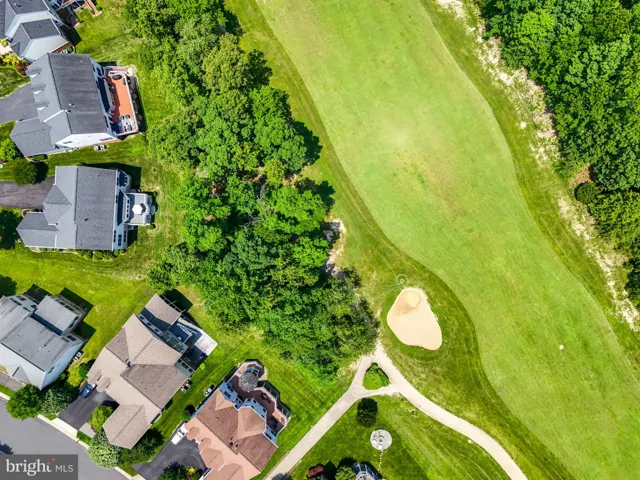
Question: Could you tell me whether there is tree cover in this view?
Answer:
Yes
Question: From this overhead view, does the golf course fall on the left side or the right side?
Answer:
right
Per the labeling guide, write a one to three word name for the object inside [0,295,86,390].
house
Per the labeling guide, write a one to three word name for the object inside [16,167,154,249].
house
